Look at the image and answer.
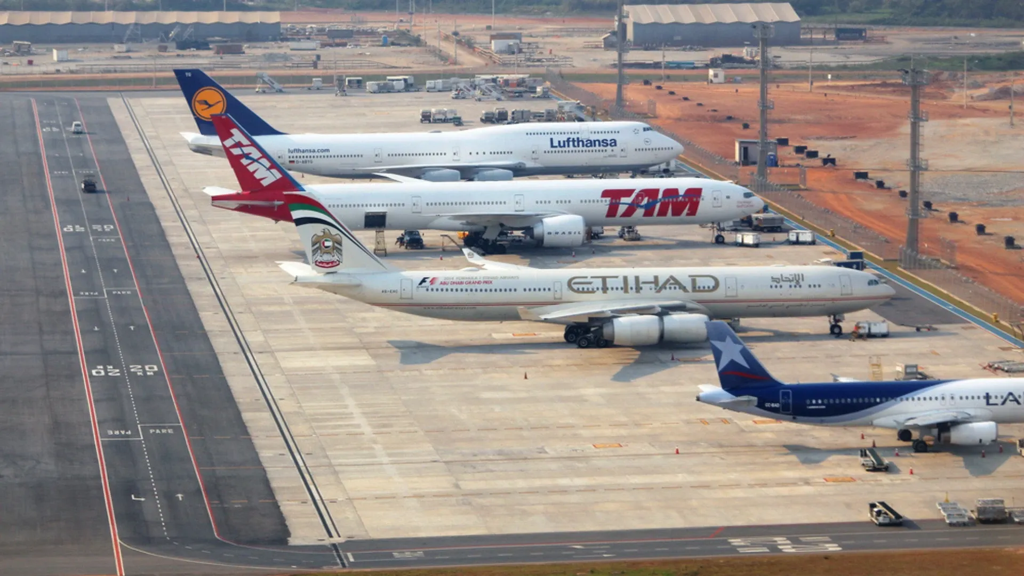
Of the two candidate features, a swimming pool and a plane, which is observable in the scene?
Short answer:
plane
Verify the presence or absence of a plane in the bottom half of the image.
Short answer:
Yes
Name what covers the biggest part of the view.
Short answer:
paved ground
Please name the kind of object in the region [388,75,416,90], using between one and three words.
vehicle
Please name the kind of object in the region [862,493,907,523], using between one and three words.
work vehicle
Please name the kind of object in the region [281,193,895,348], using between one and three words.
airplane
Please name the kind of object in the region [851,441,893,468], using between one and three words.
work vehicle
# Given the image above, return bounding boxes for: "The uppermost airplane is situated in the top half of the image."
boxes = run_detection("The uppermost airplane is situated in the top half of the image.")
[174,69,683,183]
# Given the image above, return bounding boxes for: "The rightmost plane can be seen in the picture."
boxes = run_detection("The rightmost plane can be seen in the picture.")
[695,322,1024,453]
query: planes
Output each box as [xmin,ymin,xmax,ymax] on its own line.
[695,322,1024,453]
[174,69,683,183]
[281,193,895,348]
[204,114,764,254]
